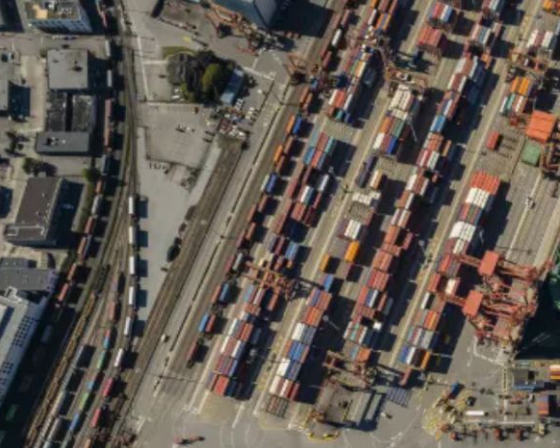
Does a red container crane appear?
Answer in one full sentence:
Yes, looking at the shot, I can spot a red container crane.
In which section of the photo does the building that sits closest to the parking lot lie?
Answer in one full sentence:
The building that sits closest to the parking lot is in the top part of the image.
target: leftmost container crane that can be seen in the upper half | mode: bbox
[282,55,338,96]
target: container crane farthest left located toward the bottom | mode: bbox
[244,259,302,297]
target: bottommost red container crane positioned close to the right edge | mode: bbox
[424,281,536,347]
